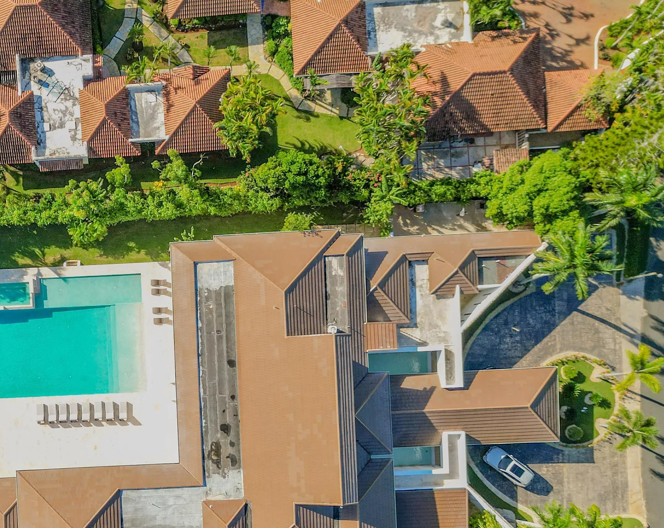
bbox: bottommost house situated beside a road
[0,228,561,528]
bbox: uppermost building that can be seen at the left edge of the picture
[0,0,233,171]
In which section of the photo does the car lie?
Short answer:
bottom right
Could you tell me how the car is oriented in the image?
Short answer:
diagonally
